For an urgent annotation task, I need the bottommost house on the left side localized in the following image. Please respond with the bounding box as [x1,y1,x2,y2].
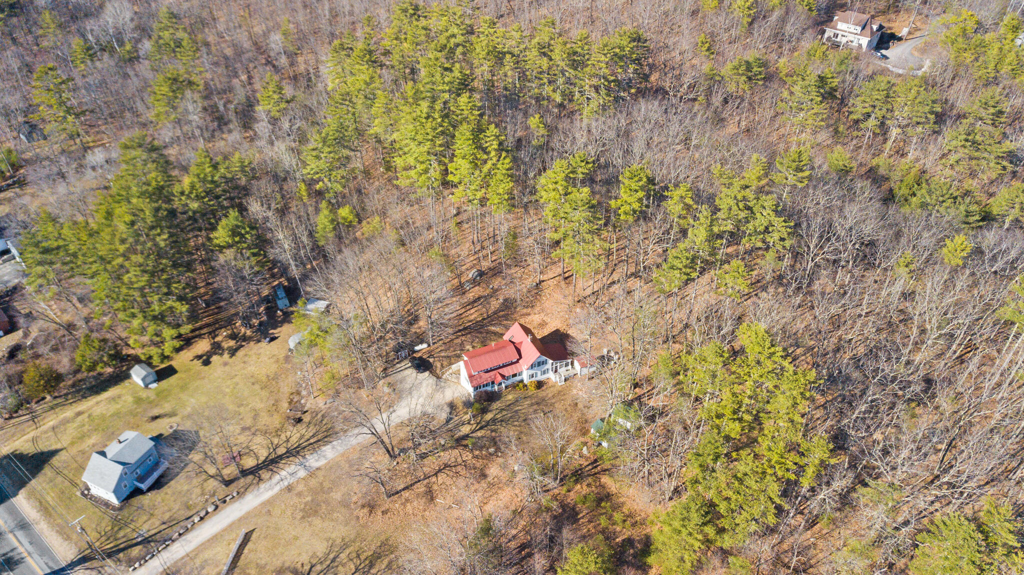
[83,429,169,503]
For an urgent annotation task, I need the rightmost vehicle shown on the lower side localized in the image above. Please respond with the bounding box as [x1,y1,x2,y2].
[412,354,429,372]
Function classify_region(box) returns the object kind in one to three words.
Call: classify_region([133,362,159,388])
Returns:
shed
